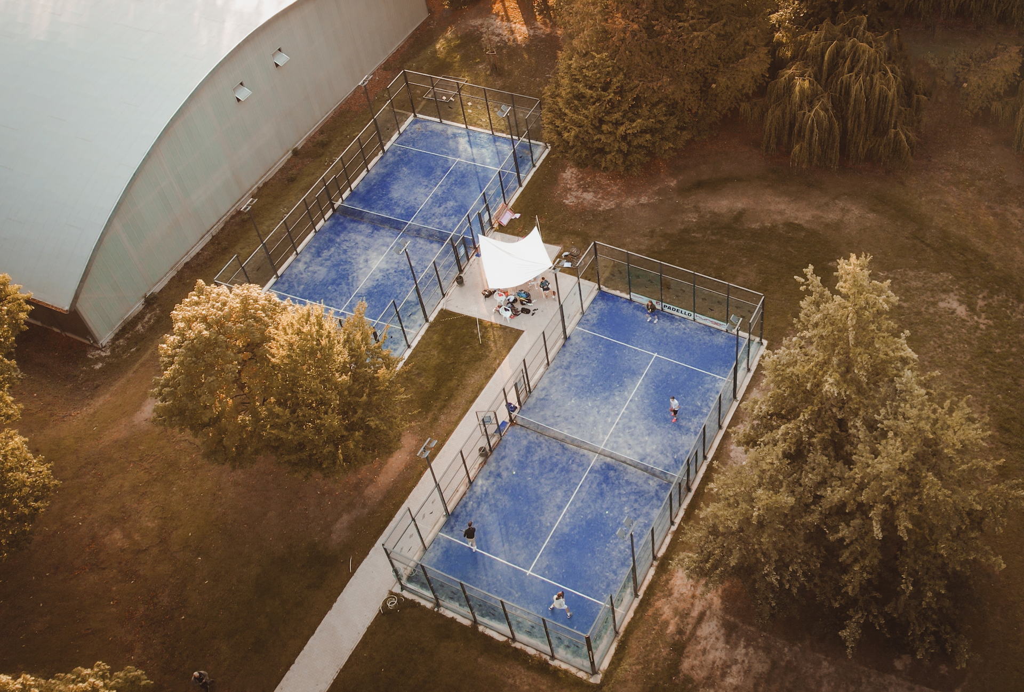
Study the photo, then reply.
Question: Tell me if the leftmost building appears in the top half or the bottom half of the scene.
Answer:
top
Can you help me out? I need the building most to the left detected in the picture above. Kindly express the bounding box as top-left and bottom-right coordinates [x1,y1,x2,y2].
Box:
[0,0,431,349]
